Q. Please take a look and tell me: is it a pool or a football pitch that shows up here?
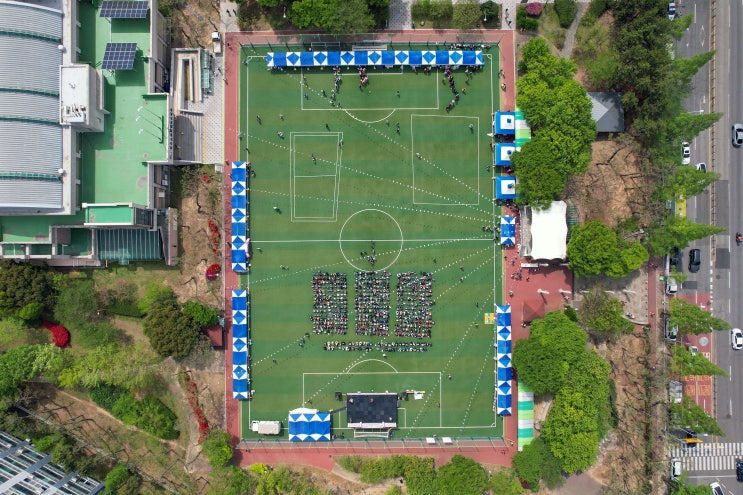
football pitch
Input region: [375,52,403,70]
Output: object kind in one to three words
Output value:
tent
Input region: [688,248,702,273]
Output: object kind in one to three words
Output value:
car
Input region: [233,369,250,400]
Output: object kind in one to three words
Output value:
tent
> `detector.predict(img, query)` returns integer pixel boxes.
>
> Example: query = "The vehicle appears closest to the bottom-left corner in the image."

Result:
[253,421,282,436]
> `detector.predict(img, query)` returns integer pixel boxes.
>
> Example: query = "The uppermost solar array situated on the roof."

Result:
[100,0,149,21]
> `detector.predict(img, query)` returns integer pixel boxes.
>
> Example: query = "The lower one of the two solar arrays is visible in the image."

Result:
[102,43,137,70]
